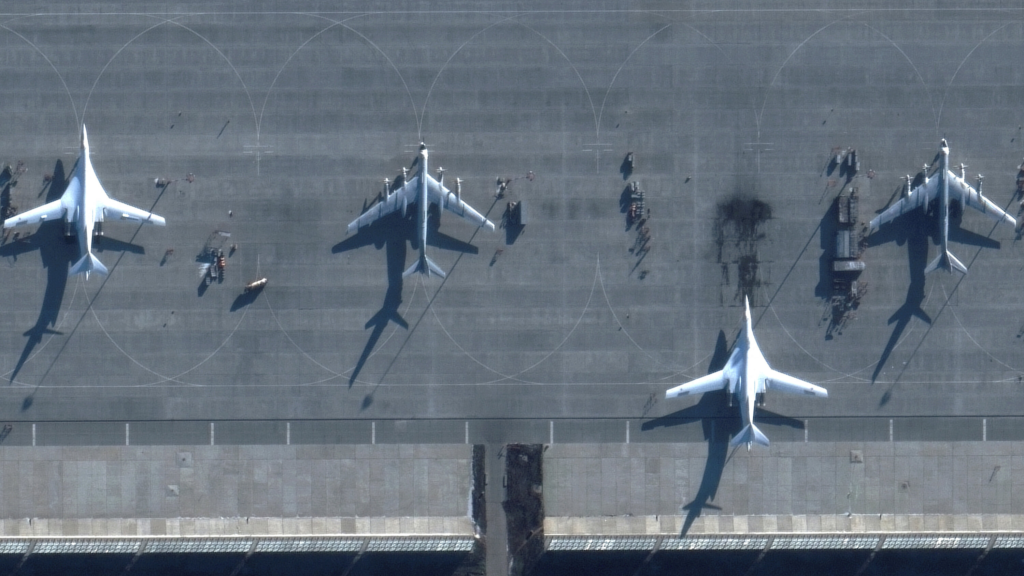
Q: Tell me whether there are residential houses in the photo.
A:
No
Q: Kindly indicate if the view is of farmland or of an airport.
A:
airport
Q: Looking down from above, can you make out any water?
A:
No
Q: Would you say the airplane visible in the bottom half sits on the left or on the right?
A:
right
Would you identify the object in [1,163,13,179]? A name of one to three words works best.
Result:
vehicle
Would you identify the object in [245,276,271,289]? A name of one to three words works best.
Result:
vehicle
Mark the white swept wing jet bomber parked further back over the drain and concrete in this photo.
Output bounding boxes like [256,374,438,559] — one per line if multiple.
[667,295,827,452]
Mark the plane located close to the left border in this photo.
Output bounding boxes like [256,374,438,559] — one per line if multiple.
[4,124,165,280]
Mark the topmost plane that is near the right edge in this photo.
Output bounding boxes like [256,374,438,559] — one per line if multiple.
[870,138,1016,273]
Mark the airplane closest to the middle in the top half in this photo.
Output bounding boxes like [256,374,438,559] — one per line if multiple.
[348,142,494,277]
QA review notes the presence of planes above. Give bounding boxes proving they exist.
[348,142,494,277]
[870,138,1016,273]
[4,124,165,280]
[667,295,827,452]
